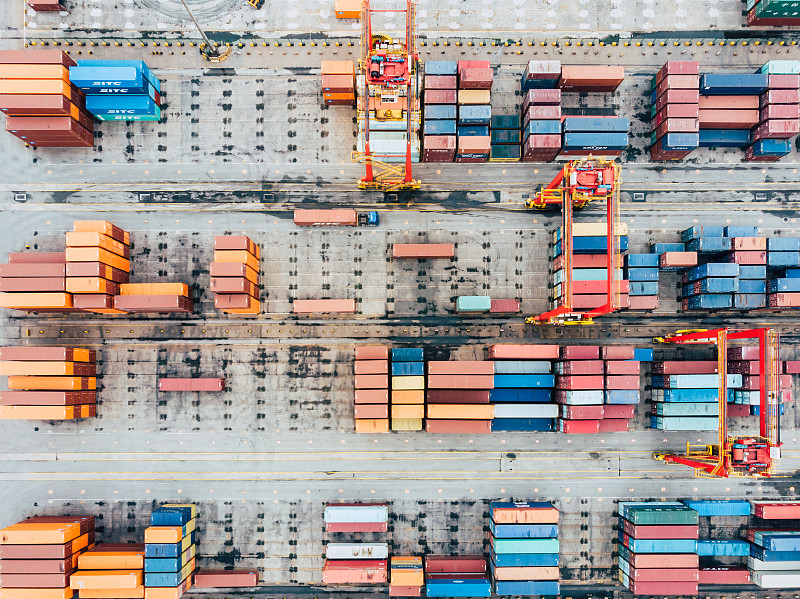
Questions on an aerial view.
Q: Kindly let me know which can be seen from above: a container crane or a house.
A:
container crane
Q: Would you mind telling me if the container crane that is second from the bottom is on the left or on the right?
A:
right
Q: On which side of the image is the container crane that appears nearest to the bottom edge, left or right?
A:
right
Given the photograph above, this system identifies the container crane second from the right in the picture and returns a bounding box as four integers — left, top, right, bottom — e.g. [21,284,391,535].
[527,154,623,332]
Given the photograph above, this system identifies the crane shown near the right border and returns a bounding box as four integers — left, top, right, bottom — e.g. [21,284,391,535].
[655,324,780,482]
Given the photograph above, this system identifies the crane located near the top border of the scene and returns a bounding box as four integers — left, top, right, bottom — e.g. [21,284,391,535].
[355,0,425,191]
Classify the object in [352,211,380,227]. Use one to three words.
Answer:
vehicle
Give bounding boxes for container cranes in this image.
[655,324,780,482]
[527,154,623,332]
[355,0,425,191]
